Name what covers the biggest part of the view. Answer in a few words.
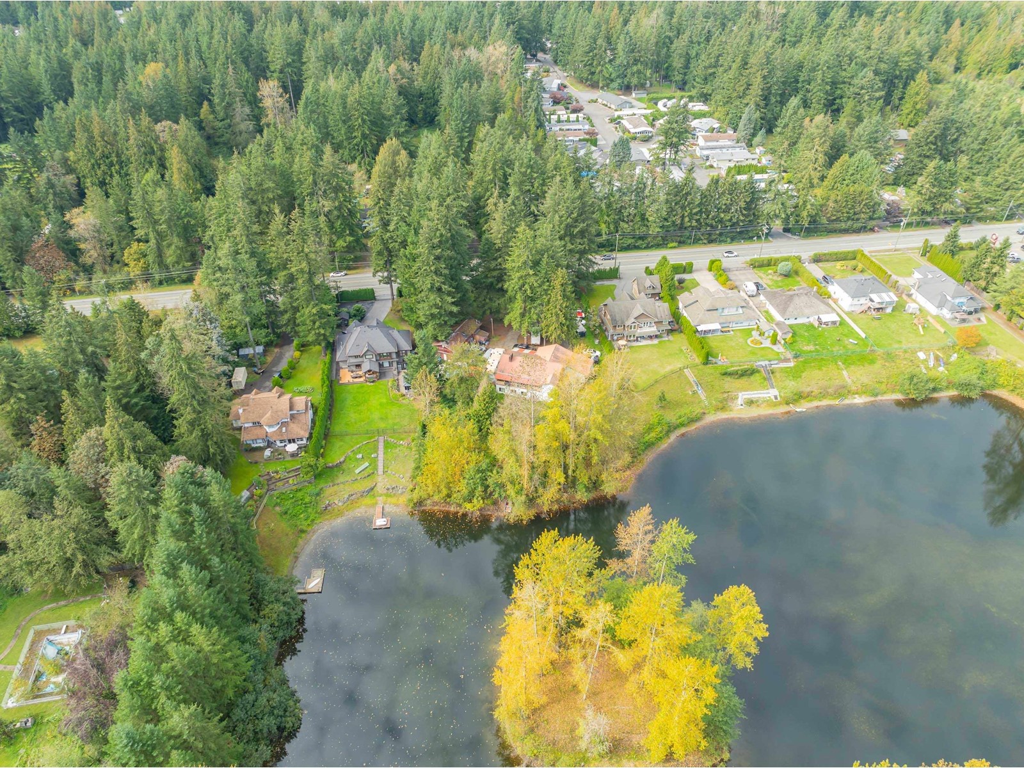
trees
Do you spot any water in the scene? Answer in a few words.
Yes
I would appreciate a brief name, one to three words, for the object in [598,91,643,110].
building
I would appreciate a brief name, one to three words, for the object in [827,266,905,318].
house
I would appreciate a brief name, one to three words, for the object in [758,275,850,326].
house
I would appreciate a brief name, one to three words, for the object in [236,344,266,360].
shed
